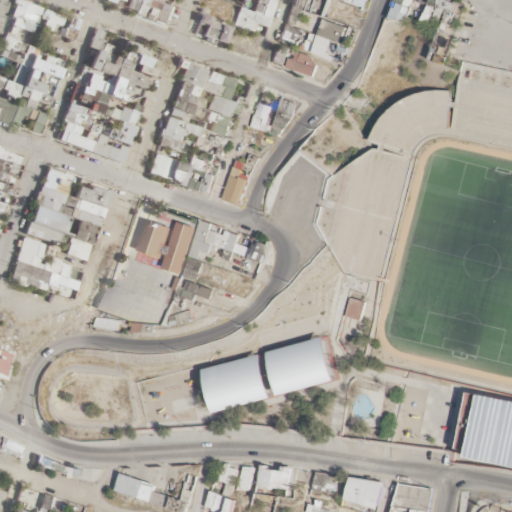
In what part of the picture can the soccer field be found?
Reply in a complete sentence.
The soccer field appears toward the right of the photo.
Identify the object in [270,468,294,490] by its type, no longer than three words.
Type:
house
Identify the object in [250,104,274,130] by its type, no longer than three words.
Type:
house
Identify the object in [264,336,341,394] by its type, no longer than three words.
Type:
building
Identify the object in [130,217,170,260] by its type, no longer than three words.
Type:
building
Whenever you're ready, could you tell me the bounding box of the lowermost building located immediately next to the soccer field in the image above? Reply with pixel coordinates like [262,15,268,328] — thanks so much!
[452,391,512,468]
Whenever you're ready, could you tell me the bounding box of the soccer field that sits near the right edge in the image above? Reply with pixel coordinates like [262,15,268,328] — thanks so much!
[388,150,512,376]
